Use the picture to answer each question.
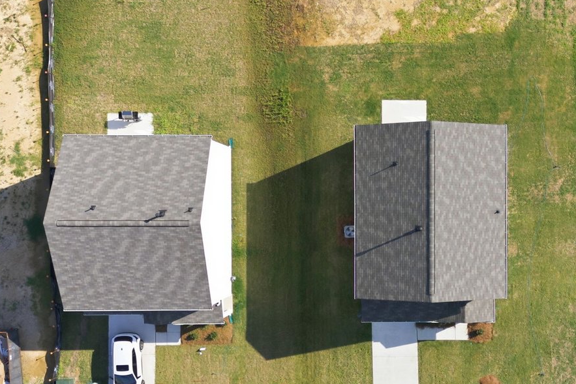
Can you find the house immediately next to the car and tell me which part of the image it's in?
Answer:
left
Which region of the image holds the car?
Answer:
bottom left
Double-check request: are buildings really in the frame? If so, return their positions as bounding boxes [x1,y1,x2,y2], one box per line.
[43,132,232,325]
[353,120,509,324]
